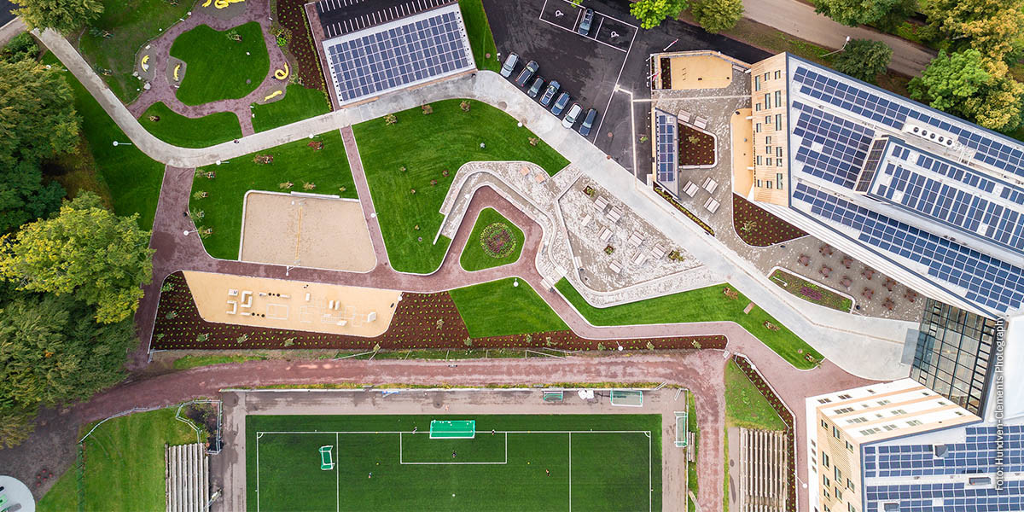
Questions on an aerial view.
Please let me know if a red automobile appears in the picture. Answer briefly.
No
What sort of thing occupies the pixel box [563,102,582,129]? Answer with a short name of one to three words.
car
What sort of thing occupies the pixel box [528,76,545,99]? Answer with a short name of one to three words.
car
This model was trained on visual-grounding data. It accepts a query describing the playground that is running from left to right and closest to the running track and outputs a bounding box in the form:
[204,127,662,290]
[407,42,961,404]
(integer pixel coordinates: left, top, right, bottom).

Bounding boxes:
[181,271,404,336]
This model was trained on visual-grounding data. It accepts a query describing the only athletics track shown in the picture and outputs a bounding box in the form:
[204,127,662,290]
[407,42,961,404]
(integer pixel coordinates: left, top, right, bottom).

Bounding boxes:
[42,349,727,512]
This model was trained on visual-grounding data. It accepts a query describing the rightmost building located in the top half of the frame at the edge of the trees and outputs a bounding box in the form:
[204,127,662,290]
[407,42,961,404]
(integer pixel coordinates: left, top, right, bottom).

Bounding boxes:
[748,52,1024,330]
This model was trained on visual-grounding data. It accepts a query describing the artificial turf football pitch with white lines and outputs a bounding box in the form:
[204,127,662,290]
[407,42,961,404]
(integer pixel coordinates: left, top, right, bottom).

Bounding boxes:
[246,415,662,512]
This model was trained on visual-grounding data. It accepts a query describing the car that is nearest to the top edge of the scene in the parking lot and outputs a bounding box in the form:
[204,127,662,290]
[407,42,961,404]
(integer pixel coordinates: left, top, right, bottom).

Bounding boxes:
[578,8,594,35]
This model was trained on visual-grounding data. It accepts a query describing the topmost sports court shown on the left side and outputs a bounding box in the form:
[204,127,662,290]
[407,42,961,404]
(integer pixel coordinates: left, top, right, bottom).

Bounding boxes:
[239,190,378,273]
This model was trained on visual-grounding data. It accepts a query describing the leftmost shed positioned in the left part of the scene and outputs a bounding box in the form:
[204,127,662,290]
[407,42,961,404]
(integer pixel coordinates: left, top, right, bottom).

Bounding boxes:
[323,4,477,107]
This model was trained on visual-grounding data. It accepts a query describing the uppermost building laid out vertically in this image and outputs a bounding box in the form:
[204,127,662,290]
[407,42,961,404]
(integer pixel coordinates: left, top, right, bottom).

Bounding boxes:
[656,108,679,200]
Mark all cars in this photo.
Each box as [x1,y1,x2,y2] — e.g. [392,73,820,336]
[528,76,545,99]
[579,107,598,135]
[551,90,570,117]
[501,52,519,78]
[578,8,594,35]
[563,102,582,129]
[540,80,560,107]
[517,59,537,88]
